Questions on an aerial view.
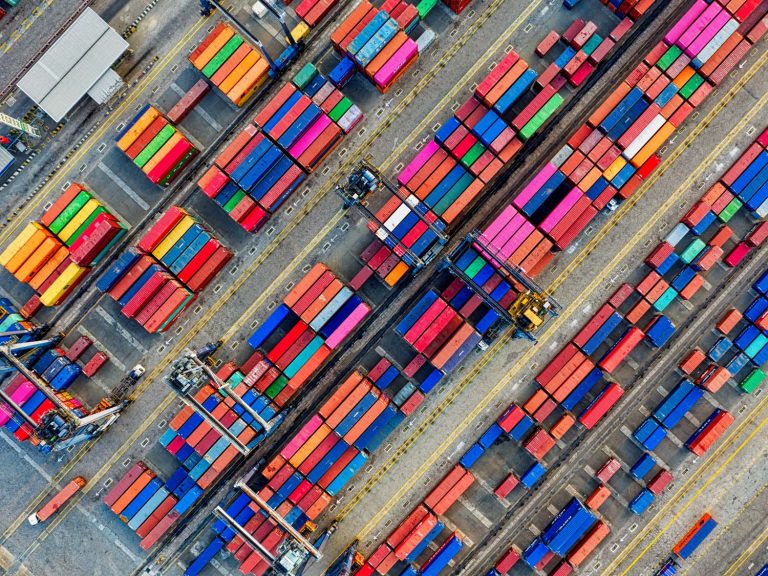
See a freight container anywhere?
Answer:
Yes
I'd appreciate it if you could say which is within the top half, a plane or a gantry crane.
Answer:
gantry crane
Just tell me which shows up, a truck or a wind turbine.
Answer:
truck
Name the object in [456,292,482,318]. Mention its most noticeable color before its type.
red shipping container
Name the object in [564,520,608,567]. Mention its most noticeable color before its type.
red shipping container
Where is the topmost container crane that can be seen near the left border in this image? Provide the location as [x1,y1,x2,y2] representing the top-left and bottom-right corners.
[0,314,58,352]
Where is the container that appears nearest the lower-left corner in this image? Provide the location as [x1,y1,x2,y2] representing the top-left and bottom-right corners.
[37,475,86,520]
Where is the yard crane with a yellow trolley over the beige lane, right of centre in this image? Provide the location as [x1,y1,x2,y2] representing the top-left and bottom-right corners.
[435,224,567,344]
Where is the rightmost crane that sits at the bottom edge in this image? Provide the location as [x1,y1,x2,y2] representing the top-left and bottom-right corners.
[322,538,370,576]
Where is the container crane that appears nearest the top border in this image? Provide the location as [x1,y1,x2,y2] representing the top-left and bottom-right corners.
[196,0,304,83]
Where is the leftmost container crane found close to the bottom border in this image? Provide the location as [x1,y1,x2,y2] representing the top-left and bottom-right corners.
[211,452,337,576]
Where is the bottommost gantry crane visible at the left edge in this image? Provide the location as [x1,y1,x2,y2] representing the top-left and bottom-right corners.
[0,334,133,454]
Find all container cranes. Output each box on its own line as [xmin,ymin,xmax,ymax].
[211,452,337,576]
[339,157,455,275]
[196,0,304,83]
[435,224,567,344]
[0,314,58,352]
[161,338,291,458]
[0,334,133,454]
[322,538,370,576]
